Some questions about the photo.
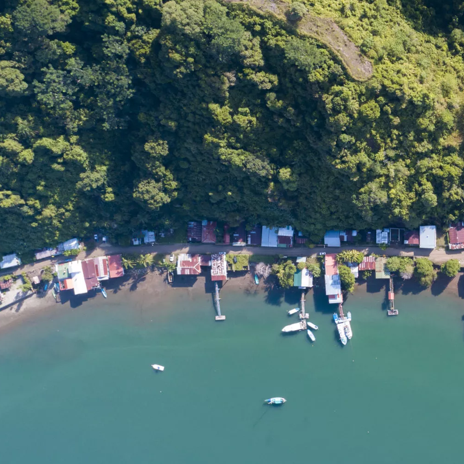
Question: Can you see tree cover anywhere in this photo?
Yes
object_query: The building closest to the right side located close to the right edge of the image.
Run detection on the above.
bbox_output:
[449,222,464,249]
